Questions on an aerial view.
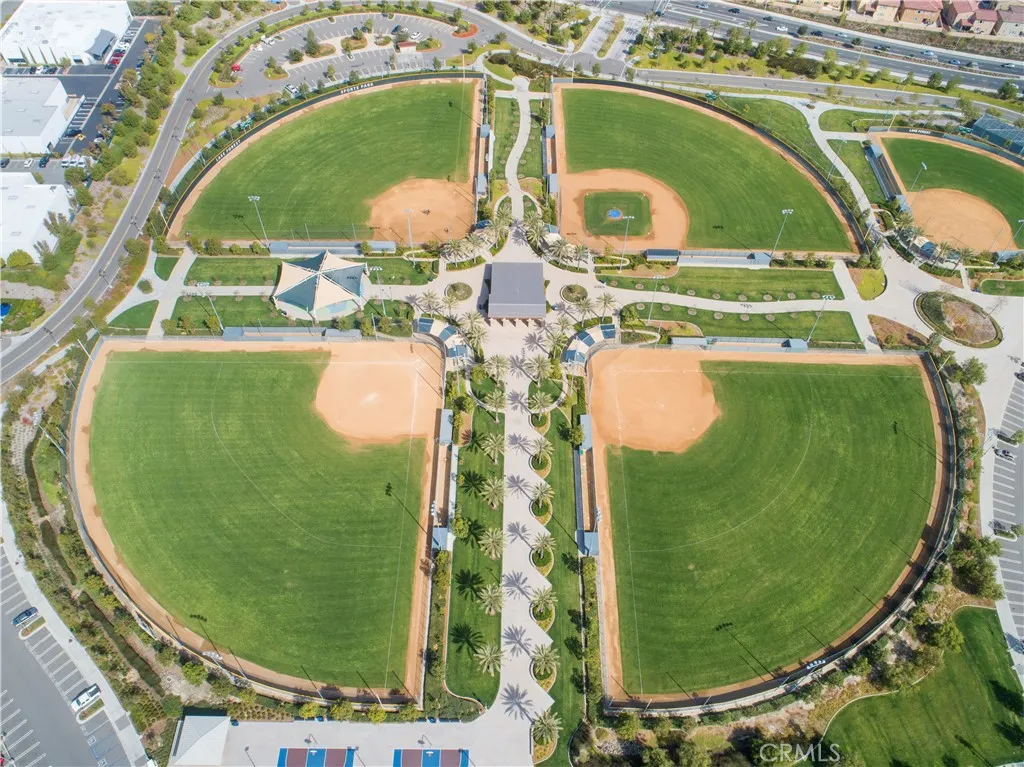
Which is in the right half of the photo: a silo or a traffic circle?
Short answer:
traffic circle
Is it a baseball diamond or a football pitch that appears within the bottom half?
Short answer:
baseball diamond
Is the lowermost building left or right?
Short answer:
left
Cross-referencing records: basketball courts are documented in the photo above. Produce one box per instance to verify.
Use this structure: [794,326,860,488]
[392,748,469,767]
[276,748,355,767]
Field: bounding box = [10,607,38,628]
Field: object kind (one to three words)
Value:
car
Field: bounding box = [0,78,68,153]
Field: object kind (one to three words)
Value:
building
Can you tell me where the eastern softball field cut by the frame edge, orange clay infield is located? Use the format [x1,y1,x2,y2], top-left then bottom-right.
[871,131,1024,253]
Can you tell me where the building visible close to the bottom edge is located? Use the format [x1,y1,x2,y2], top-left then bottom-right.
[171,716,231,767]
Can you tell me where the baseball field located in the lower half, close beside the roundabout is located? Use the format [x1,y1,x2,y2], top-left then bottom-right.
[587,347,952,715]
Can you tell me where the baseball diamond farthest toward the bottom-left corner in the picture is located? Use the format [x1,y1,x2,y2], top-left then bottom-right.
[74,338,443,708]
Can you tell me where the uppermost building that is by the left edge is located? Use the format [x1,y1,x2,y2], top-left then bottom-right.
[0,1,136,64]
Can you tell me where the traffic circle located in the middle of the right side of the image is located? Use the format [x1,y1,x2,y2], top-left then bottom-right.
[915,289,1004,347]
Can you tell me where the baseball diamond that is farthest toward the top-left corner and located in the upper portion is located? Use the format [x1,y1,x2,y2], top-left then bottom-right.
[168,76,482,244]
